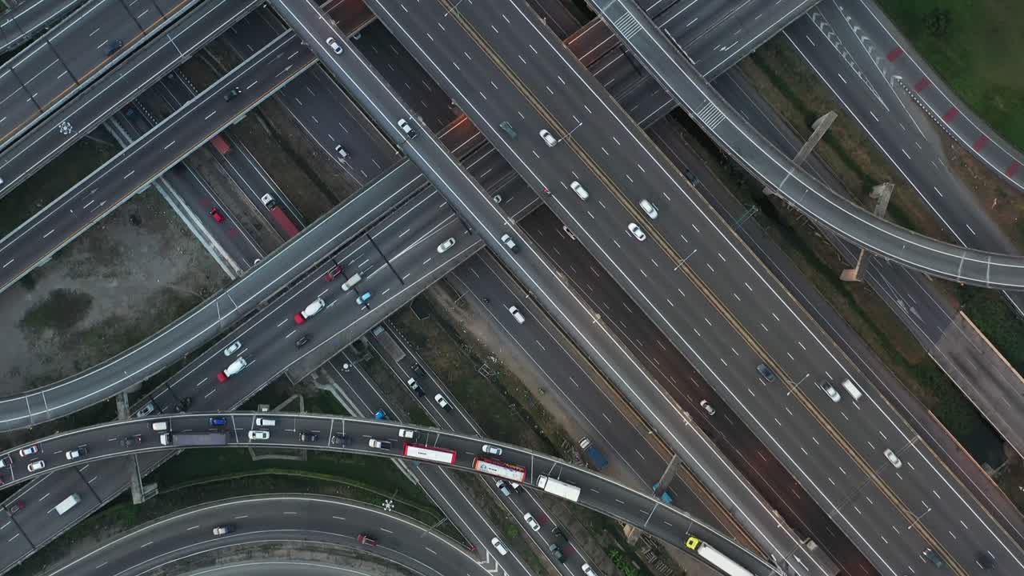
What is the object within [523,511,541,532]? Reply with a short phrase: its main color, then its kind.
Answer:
white car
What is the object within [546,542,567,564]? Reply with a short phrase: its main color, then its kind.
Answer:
gray truck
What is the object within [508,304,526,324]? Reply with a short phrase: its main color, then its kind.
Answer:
white car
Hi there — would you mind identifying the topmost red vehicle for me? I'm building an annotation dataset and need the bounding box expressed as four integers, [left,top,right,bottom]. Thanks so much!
[212,134,235,157]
